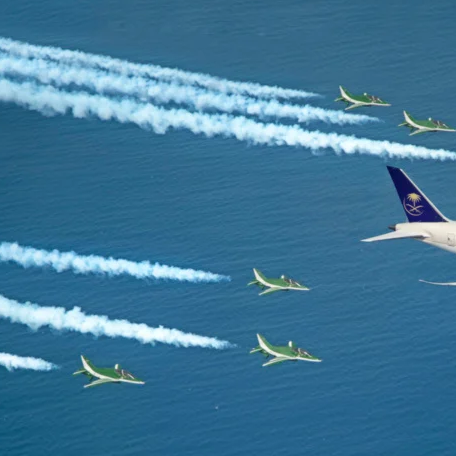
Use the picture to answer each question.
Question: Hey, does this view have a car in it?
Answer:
No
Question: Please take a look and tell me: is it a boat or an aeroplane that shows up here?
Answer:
aeroplane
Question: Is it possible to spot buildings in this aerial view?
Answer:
No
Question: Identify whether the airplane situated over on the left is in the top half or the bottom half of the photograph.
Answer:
bottom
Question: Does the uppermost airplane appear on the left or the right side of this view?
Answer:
right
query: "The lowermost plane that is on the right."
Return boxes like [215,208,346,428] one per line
[249,334,321,367]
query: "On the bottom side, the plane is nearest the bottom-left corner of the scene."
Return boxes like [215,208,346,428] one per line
[72,355,148,388]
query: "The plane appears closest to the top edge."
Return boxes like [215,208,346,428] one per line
[334,86,395,110]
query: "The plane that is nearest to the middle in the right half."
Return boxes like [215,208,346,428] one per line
[247,269,311,295]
